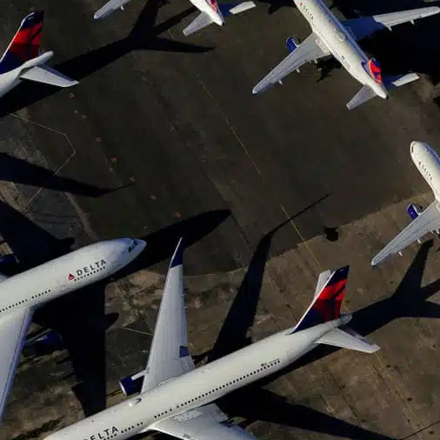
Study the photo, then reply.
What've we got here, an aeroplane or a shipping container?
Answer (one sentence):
It is an aeroplane that can be seen here.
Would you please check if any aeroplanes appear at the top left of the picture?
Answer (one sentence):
Yes, there is an aeroplane at the top left of the picture.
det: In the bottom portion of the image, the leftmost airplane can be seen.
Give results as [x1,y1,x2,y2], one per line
[0,236,145,424]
